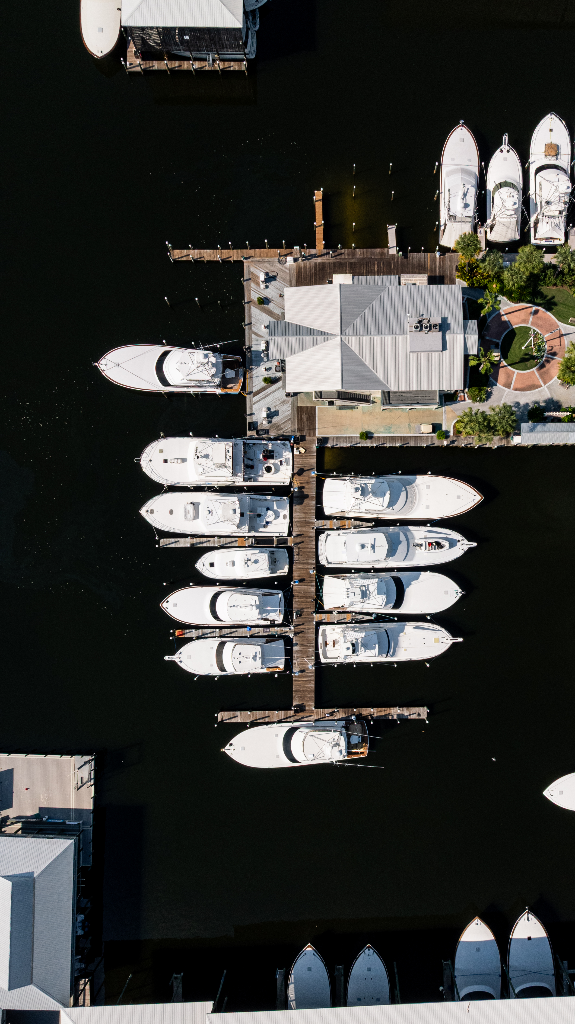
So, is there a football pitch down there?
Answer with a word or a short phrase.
No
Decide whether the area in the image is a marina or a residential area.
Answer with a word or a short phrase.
marina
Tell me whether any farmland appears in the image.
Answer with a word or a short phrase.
No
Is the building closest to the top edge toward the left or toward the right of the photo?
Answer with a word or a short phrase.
left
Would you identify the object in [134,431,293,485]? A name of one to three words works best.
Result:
boat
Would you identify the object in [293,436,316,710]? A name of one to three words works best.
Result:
pier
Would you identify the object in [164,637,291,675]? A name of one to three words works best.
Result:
boat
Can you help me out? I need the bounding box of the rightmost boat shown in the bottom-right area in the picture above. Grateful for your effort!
[543,771,575,813]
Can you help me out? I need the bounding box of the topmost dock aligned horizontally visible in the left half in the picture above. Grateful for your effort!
[127,61,247,76]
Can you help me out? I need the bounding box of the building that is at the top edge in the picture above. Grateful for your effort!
[120,0,251,69]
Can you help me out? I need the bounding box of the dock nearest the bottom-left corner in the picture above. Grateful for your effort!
[72,977,92,1006]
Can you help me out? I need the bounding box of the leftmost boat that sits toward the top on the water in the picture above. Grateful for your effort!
[81,0,121,61]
